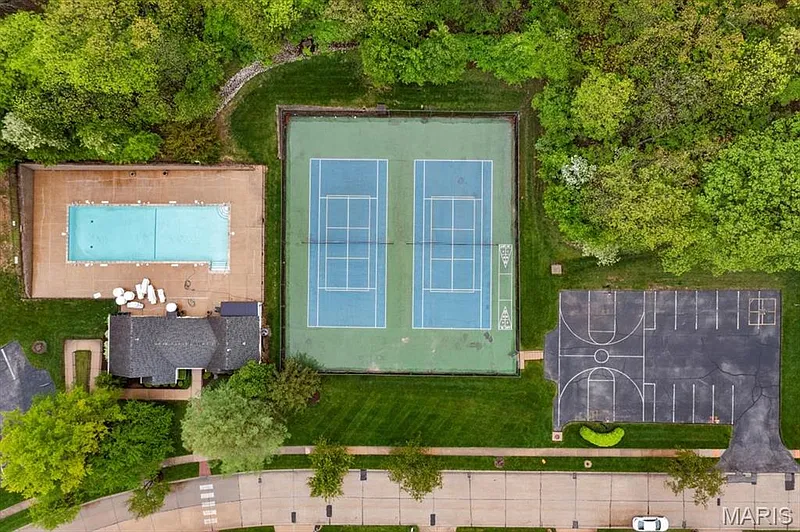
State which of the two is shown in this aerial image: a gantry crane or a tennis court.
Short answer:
tennis court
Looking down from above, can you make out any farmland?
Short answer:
No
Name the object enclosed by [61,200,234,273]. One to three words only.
swimming pool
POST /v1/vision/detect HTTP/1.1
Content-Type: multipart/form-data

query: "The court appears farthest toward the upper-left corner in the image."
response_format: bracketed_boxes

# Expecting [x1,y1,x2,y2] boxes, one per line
[301,159,394,328]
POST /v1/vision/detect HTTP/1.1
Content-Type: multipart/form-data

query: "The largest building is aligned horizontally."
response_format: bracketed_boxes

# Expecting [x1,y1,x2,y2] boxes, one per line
[108,302,262,386]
